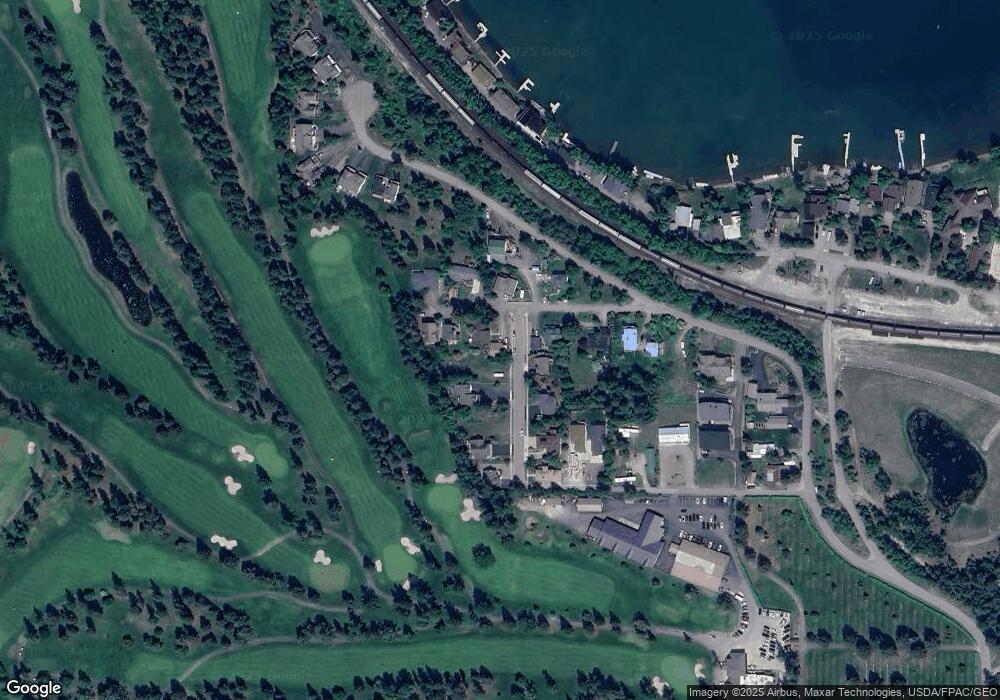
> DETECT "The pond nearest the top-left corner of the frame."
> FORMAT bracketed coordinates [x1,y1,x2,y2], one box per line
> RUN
[66,171,152,325]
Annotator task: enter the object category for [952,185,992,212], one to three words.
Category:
house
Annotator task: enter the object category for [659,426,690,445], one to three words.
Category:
barn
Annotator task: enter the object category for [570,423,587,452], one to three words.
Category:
building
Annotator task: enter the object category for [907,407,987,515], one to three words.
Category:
pond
